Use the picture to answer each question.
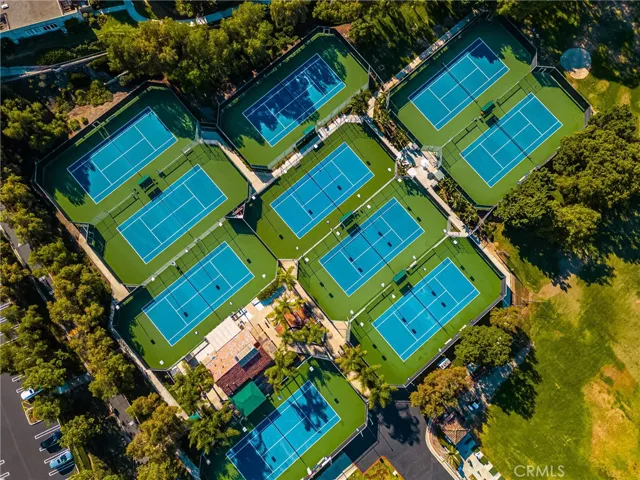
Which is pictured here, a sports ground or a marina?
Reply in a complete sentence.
It's a sports ground.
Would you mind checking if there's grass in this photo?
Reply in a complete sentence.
Yes, there's grass in this view.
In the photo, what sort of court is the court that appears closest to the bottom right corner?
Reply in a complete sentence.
The court that appears closest to the bottom right corner in the image is a tennis court.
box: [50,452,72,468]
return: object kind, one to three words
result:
car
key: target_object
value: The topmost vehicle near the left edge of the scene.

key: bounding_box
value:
[20,385,43,398]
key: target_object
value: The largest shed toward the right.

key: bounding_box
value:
[441,419,469,444]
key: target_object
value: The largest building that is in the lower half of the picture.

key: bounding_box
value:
[204,329,273,397]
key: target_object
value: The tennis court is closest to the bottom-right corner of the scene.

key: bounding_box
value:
[350,238,501,385]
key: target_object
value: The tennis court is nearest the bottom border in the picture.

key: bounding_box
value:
[203,359,366,480]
